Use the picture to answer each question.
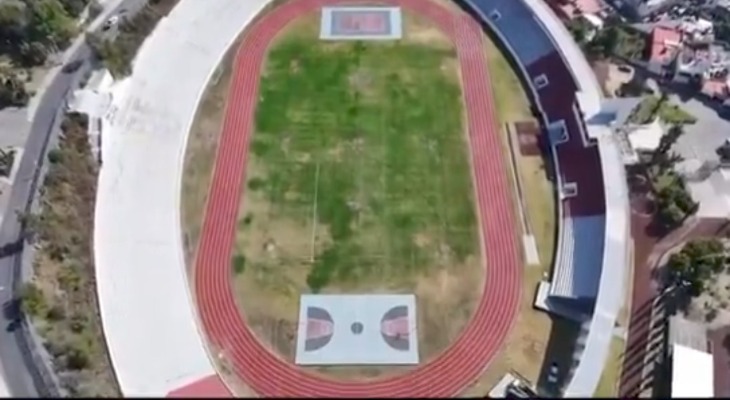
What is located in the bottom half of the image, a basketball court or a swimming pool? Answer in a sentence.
What appears in the bottom half of the image is a basketball court.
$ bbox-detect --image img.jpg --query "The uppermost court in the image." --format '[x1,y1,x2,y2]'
[320,6,402,40]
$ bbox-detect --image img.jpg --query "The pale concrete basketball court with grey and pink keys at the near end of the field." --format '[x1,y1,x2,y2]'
[296,293,418,364]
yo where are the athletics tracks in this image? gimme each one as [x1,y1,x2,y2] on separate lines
[195,0,521,400]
